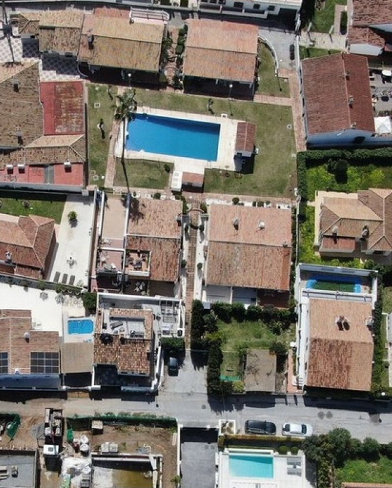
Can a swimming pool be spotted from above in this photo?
Yes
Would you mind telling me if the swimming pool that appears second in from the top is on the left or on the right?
right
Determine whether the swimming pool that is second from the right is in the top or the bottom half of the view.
bottom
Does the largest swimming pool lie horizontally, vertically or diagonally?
horizontally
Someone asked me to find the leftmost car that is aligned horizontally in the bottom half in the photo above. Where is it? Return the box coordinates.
[245,420,277,436]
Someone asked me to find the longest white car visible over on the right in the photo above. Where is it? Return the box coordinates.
[283,422,314,438]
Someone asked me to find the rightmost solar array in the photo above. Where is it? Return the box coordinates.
[31,352,59,373]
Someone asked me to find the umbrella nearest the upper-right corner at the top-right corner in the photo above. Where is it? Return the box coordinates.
[380,65,392,82]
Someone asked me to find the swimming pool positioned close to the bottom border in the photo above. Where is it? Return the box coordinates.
[229,453,276,480]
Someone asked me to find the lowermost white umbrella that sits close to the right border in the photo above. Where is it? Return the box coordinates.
[375,116,392,133]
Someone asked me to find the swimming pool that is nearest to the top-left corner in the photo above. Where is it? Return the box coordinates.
[124,111,223,163]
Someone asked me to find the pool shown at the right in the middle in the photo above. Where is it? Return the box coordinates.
[306,272,364,293]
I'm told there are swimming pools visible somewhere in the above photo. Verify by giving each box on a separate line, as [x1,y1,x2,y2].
[124,111,223,163]
[229,453,276,480]
[306,272,364,293]
[66,317,96,335]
